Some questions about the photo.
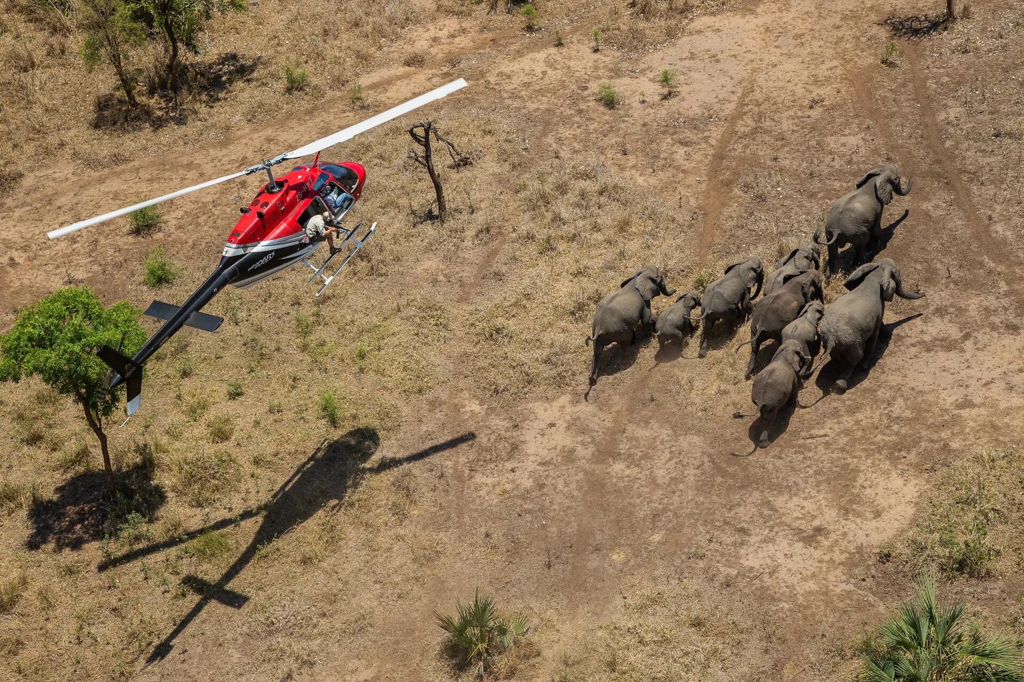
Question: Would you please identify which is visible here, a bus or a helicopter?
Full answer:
I can see a helicopter in this picture.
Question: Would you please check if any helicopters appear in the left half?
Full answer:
Yes, I can see a helicopter in the left half.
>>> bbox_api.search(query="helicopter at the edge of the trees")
[47,83,470,435]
